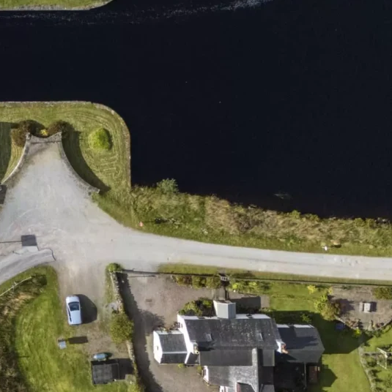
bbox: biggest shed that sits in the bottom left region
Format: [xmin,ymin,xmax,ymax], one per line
[89,357,120,384]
